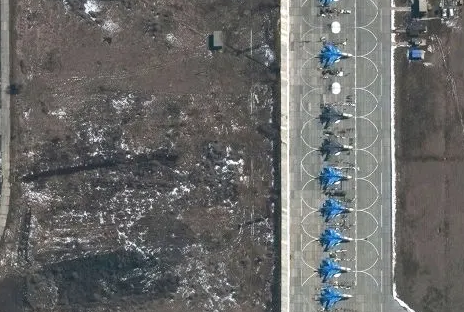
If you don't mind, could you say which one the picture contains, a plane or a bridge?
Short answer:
plane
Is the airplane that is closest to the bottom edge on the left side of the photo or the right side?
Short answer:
right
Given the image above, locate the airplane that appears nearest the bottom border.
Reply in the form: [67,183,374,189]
[316,285,353,309]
